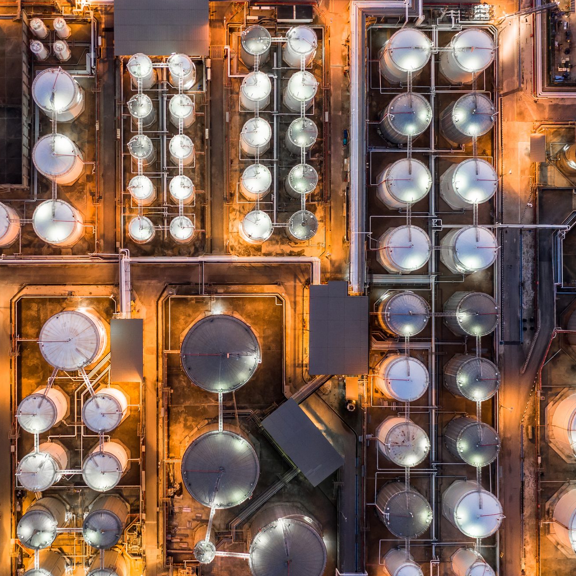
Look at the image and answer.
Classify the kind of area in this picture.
industrial area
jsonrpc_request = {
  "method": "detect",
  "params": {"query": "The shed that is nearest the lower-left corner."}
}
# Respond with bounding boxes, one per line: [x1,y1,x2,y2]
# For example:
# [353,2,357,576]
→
[110,318,145,381]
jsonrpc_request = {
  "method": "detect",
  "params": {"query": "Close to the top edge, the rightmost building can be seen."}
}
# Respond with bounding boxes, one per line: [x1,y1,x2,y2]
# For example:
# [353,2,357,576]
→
[277,5,313,24]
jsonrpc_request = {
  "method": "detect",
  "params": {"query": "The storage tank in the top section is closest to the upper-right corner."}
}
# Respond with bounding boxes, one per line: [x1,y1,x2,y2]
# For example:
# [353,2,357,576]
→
[440,26,497,84]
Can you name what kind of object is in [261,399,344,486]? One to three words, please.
shed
